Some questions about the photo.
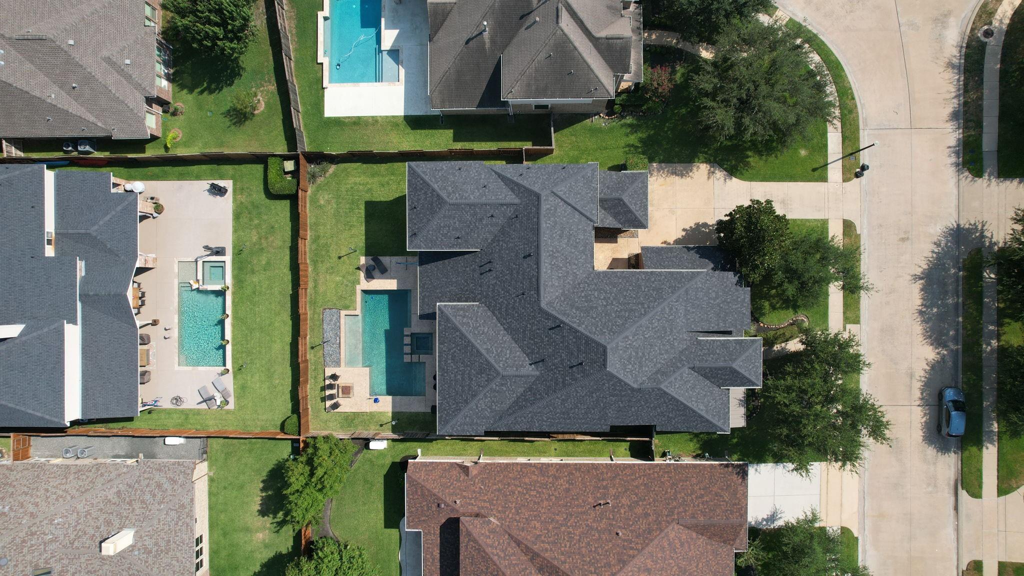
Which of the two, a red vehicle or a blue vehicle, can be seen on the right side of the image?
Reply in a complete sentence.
It is a blue vehicle that can be seen on the right side of the image.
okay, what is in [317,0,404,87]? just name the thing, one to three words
swimming pool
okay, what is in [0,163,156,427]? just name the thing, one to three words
house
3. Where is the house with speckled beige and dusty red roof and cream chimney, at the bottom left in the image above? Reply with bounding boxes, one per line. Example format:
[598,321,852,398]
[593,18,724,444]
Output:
[0,449,212,576]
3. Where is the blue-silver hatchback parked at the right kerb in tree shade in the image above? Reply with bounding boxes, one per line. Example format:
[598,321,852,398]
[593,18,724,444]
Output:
[937,385,970,438]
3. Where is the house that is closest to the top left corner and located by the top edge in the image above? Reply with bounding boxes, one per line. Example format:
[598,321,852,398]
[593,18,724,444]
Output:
[0,0,172,140]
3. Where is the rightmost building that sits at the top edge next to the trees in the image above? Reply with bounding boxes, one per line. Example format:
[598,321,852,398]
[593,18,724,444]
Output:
[426,0,644,116]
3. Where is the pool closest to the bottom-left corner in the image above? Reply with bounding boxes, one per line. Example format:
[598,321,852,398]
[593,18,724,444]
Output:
[175,250,232,370]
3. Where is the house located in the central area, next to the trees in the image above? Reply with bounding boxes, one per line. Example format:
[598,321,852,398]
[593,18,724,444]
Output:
[406,160,763,435]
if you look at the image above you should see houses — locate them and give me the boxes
[0,449,212,576]
[404,447,749,576]
[0,163,156,427]
[0,0,172,140]
[426,0,644,116]
[406,160,763,435]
